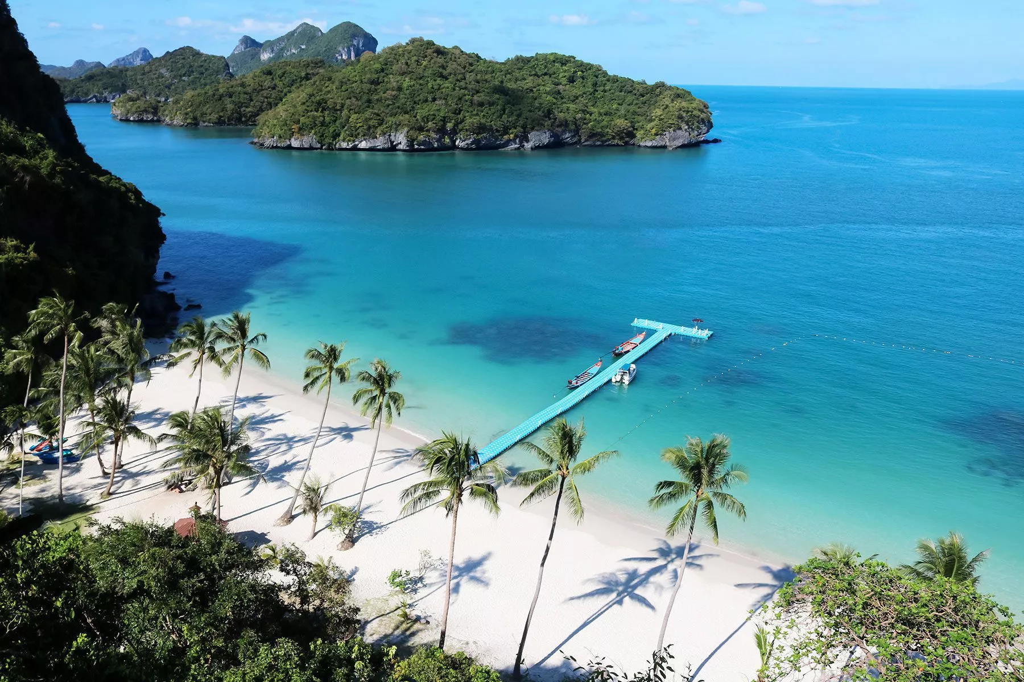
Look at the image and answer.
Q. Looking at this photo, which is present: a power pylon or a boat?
boat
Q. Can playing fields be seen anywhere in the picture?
No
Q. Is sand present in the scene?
Yes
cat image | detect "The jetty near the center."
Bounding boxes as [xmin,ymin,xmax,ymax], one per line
[465,318,712,468]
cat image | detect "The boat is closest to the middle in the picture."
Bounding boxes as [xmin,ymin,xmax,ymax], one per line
[561,356,602,391]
